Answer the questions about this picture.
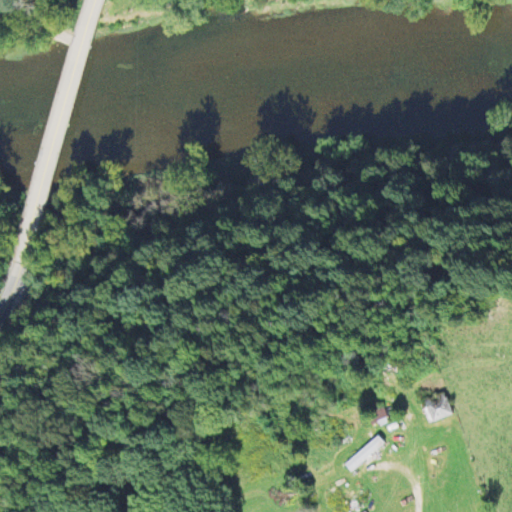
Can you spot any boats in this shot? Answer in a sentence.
No, no boat is visible in the view.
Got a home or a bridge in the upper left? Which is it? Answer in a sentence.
It is a bridge that can be seen in the upper left.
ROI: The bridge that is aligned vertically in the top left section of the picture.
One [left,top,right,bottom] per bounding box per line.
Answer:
[33,32,94,187]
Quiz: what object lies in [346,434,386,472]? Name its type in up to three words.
shed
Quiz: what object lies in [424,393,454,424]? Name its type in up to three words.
house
